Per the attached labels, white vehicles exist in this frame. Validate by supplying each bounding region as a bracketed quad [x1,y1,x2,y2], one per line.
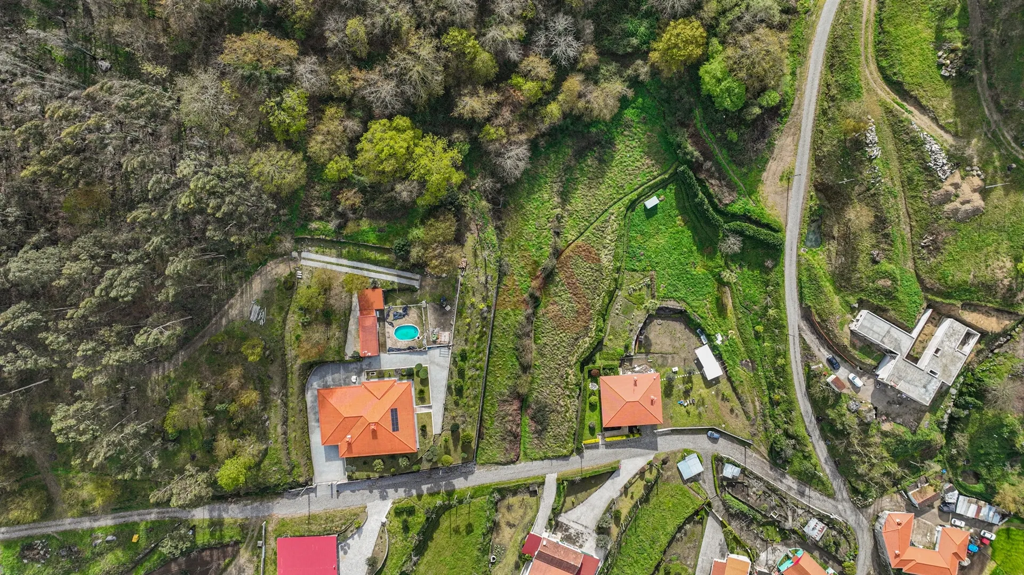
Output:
[849,374,864,388]
[981,531,997,541]
[952,520,967,528]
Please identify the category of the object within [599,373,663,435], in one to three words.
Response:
house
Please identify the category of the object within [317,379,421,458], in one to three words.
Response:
house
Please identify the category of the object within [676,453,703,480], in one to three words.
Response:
shed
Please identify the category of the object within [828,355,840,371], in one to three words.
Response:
vehicle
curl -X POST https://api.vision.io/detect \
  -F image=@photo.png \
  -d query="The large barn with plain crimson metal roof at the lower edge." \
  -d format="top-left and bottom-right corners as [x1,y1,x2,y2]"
[277,533,340,575]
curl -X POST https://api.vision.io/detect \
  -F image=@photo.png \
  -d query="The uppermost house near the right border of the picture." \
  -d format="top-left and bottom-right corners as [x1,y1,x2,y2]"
[849,309,981,406]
